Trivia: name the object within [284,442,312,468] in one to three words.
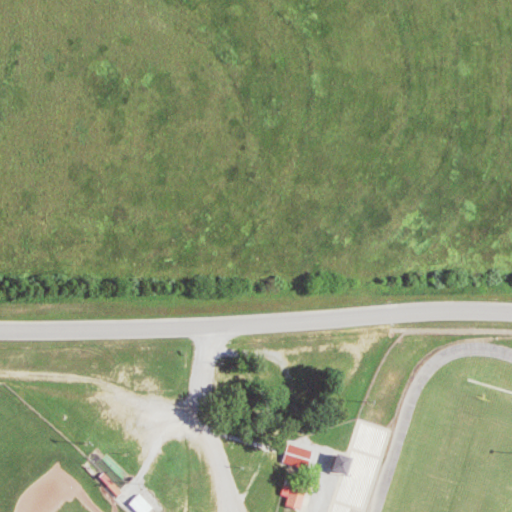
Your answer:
building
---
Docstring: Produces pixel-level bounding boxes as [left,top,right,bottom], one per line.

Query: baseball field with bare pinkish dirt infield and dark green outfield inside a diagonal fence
[0,384,118,512]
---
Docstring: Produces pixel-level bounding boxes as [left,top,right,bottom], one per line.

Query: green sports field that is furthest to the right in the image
[382,356,512,512]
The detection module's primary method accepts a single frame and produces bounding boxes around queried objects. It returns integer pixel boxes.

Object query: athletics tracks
[368,342,512,512]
